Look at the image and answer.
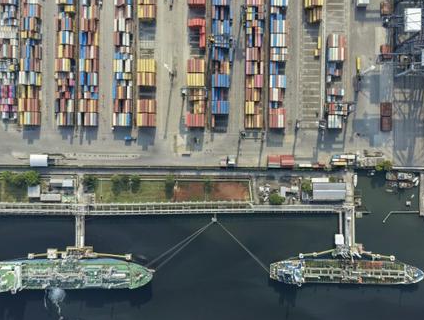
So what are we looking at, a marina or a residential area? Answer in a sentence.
The picture captures a marina.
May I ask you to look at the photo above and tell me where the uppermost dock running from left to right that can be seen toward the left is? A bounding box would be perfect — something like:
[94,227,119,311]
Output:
[0,201,264,216]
